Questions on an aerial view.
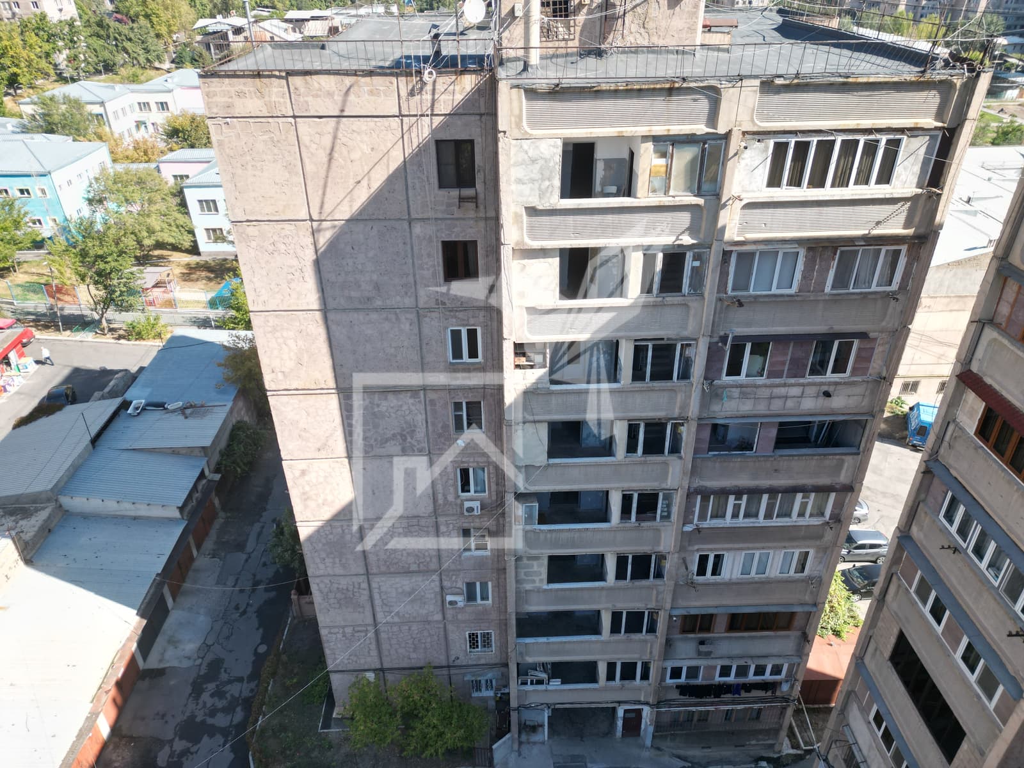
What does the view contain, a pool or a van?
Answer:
van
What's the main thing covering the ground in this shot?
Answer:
buildings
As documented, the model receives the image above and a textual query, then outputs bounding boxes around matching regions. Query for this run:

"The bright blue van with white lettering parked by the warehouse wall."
[904,400,940,447]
